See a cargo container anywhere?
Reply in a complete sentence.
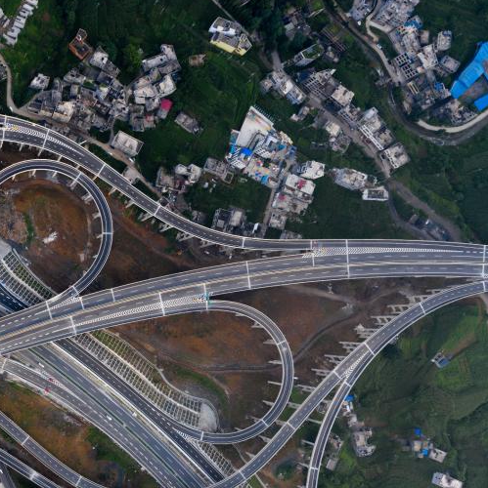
No, this view has no cargo container in it.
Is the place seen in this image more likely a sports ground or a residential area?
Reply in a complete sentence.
This image shows a residential area.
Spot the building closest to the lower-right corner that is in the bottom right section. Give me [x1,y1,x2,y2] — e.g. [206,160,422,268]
[433,473,464,488]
